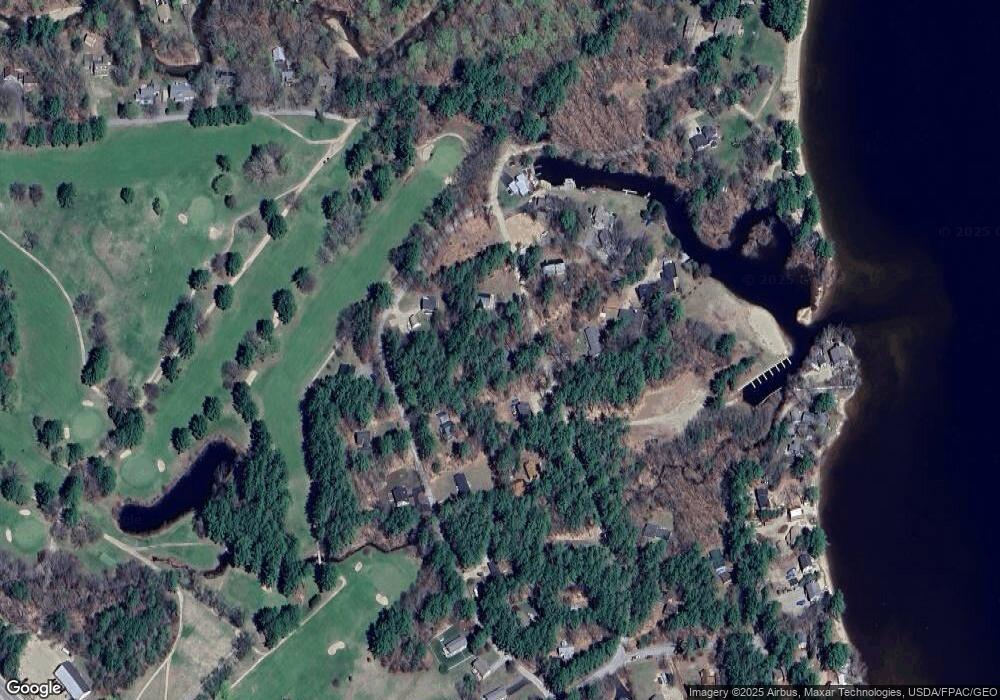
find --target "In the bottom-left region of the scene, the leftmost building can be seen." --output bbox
[54,661,91,700]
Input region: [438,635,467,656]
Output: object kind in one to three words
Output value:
house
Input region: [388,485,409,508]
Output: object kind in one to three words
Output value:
house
